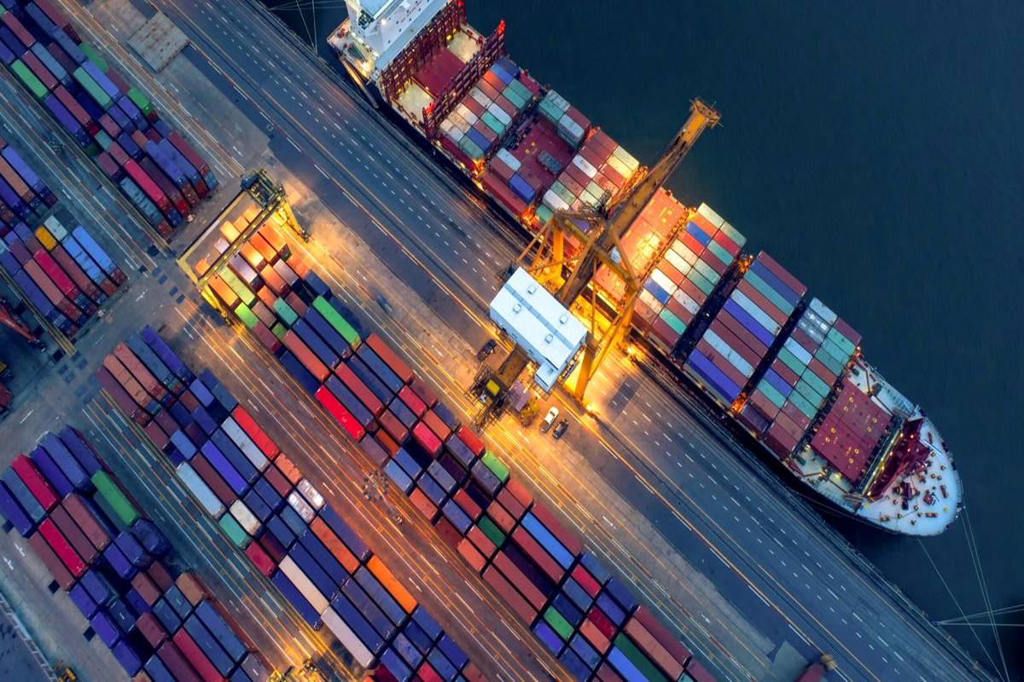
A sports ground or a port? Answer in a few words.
port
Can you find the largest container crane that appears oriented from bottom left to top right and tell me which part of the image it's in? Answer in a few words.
center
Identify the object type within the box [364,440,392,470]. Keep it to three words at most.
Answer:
shipping container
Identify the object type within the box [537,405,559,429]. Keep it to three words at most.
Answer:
truck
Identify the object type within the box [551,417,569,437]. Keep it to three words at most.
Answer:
car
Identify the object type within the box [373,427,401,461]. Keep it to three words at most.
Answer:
shipping container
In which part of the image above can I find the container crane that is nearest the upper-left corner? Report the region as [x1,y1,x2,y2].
[173,174,328,343]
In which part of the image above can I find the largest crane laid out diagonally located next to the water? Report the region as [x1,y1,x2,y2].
[446,101,720,441]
